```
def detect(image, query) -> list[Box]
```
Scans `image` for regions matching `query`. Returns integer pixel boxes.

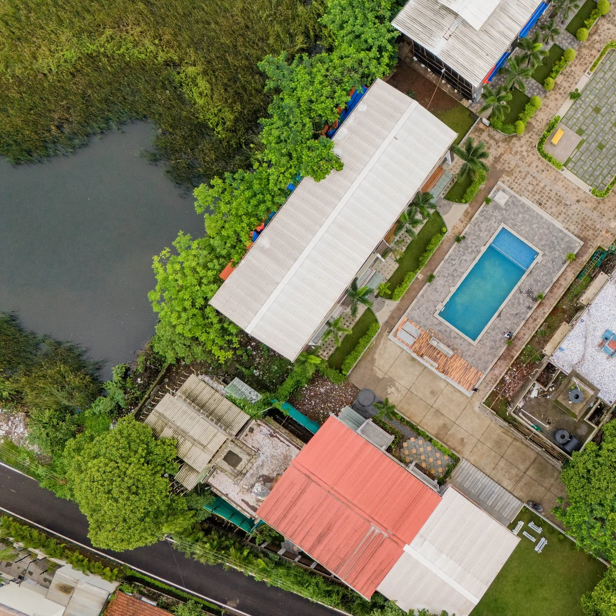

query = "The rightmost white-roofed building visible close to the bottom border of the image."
[376,484,522,616]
